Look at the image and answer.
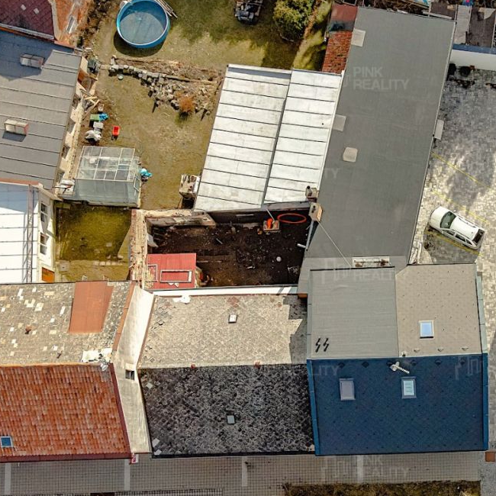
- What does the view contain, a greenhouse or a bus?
greenhouse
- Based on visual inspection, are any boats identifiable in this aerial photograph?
No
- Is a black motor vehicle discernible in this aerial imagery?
No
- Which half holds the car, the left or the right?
right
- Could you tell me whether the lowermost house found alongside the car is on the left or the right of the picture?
right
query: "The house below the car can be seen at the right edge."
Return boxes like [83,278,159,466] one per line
[304,262,491,457]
